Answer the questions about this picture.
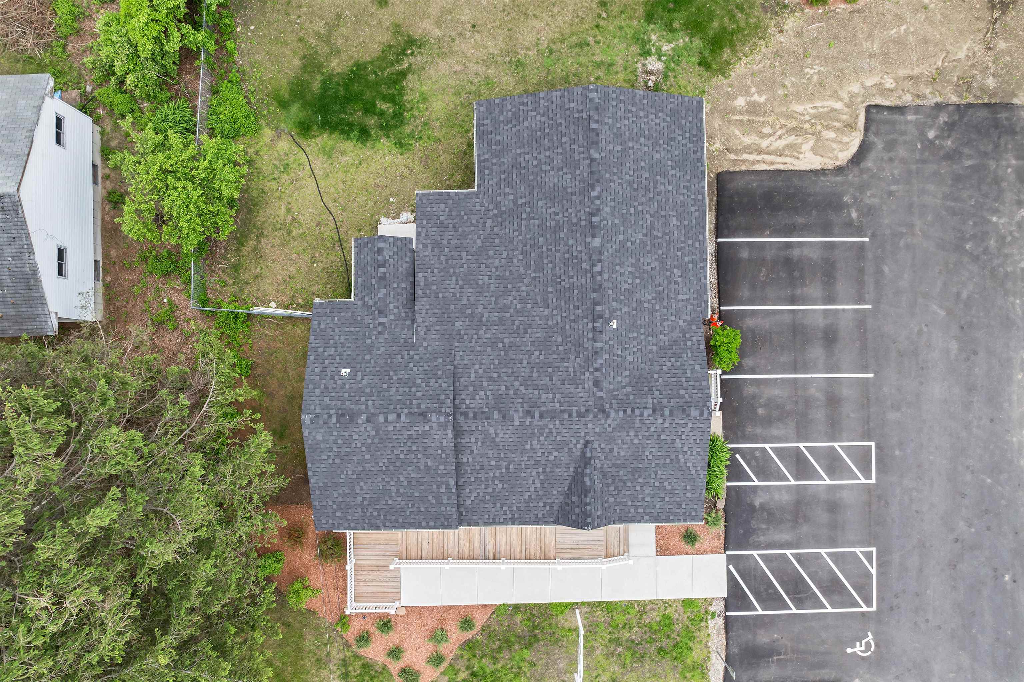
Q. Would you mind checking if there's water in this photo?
No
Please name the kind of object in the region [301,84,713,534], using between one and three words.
house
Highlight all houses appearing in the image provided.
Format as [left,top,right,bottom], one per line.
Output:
[0,74,105,337]
[301,84,713,534]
